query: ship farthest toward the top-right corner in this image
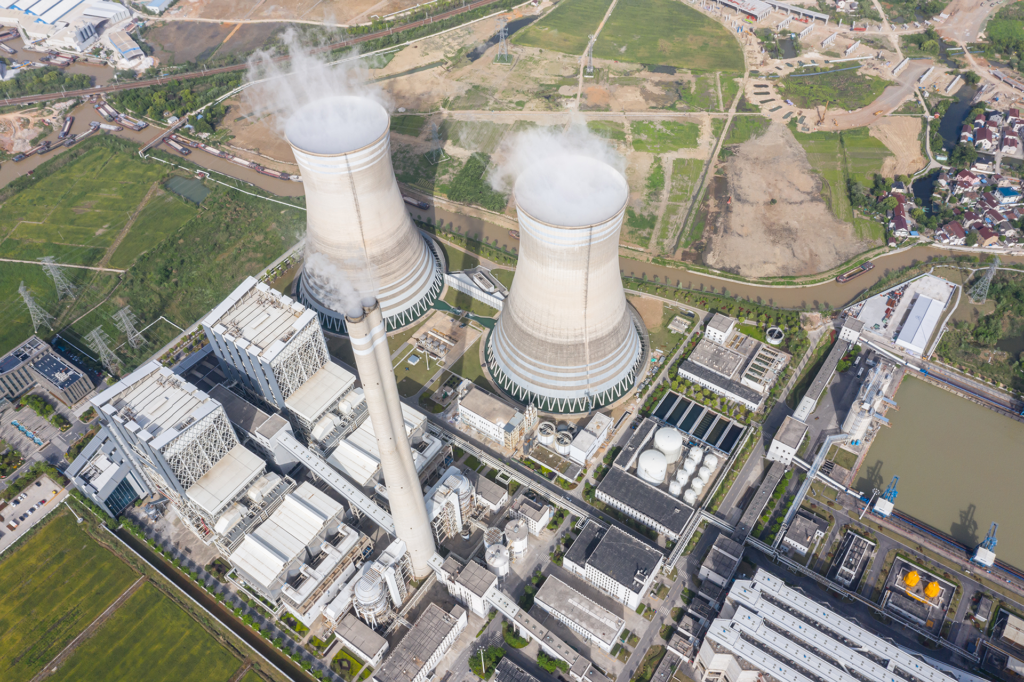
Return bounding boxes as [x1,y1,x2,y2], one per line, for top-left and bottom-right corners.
[836,258,878,281]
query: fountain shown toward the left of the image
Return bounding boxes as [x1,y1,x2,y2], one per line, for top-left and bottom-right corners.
[10,420,44,446]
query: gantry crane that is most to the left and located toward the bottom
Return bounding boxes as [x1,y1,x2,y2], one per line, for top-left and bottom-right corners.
[870,466,908,522]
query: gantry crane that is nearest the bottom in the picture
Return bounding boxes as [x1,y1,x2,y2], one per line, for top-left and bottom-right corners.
[968,514,1010,572]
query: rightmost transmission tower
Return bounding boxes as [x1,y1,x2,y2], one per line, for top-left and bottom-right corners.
[963,260,1006,306]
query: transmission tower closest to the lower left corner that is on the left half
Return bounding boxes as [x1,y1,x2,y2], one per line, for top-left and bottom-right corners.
[85,331,126,379]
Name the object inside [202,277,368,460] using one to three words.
building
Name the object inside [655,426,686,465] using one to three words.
storage tank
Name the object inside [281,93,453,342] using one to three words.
cooling tower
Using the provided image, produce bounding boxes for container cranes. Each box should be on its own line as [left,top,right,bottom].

[870,466,908,522]
[968,514,1010,572]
